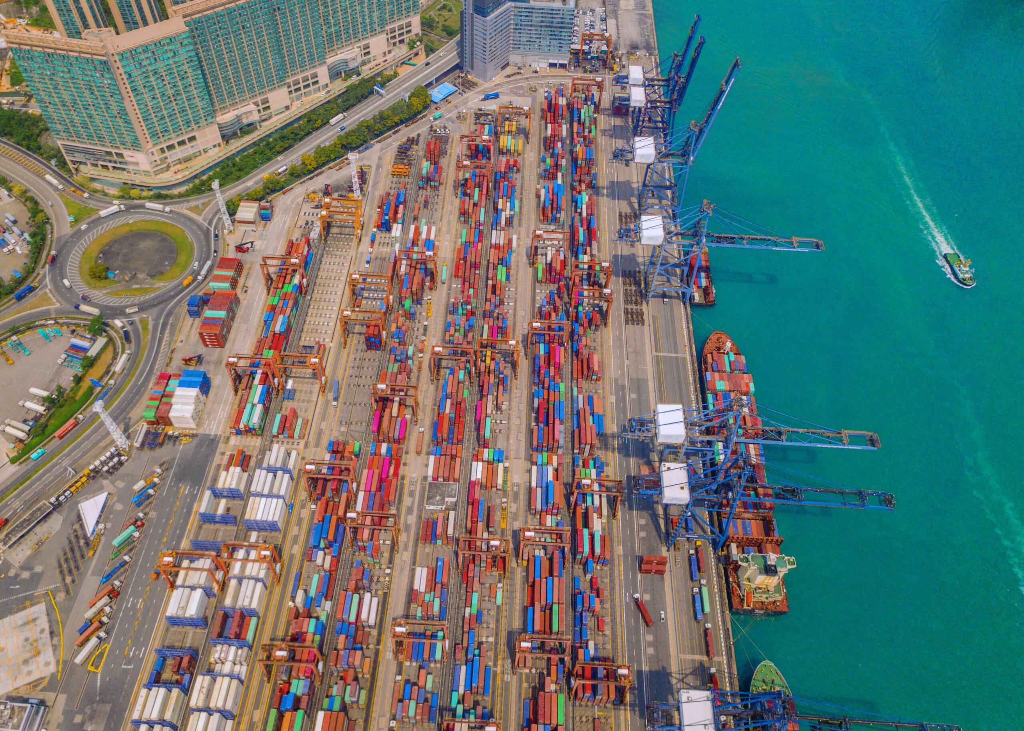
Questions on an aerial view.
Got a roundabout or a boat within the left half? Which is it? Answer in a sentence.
The one visible within the left half is a roundabout.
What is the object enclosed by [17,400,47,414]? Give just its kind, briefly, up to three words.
vehicle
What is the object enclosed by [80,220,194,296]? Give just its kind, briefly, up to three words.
roundabout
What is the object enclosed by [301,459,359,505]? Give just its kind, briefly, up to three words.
container crane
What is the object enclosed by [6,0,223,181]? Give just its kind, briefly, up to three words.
building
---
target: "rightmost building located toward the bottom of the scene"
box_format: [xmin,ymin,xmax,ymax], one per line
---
[425,481,458,510]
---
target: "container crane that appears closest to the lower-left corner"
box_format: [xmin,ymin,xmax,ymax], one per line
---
[155,549,227,596]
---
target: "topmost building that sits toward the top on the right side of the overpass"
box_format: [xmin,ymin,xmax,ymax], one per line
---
[465,0,577,81]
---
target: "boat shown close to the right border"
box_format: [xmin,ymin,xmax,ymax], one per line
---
[941,253,974,291]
